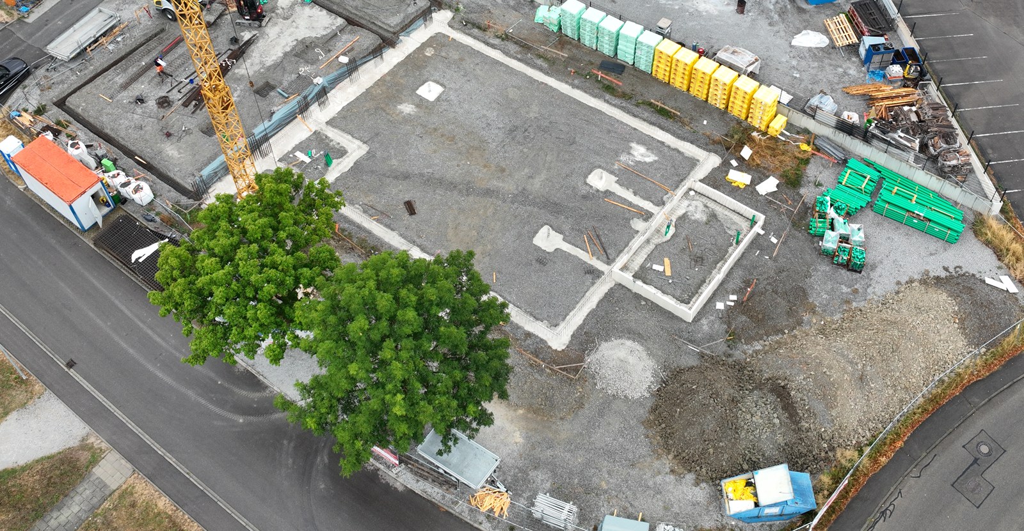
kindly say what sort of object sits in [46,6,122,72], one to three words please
trailer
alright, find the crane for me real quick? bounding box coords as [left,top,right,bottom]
[169,0,264,202]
